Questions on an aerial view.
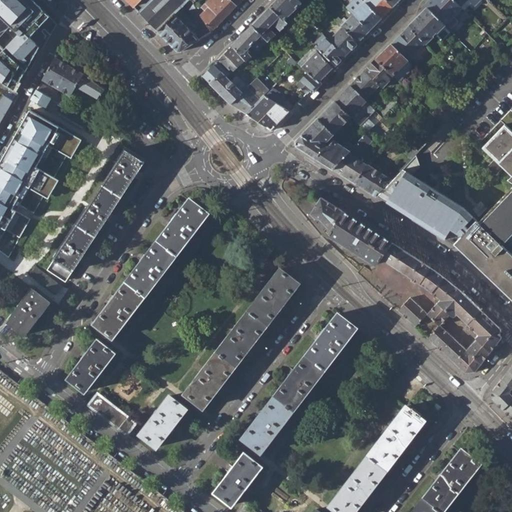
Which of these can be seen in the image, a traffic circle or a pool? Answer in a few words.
traffic circle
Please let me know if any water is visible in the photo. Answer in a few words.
No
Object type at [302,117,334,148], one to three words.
house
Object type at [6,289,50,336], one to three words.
building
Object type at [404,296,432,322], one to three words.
house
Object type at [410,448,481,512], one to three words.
building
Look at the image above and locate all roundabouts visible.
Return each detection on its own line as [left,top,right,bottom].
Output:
[198,130,254,185]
